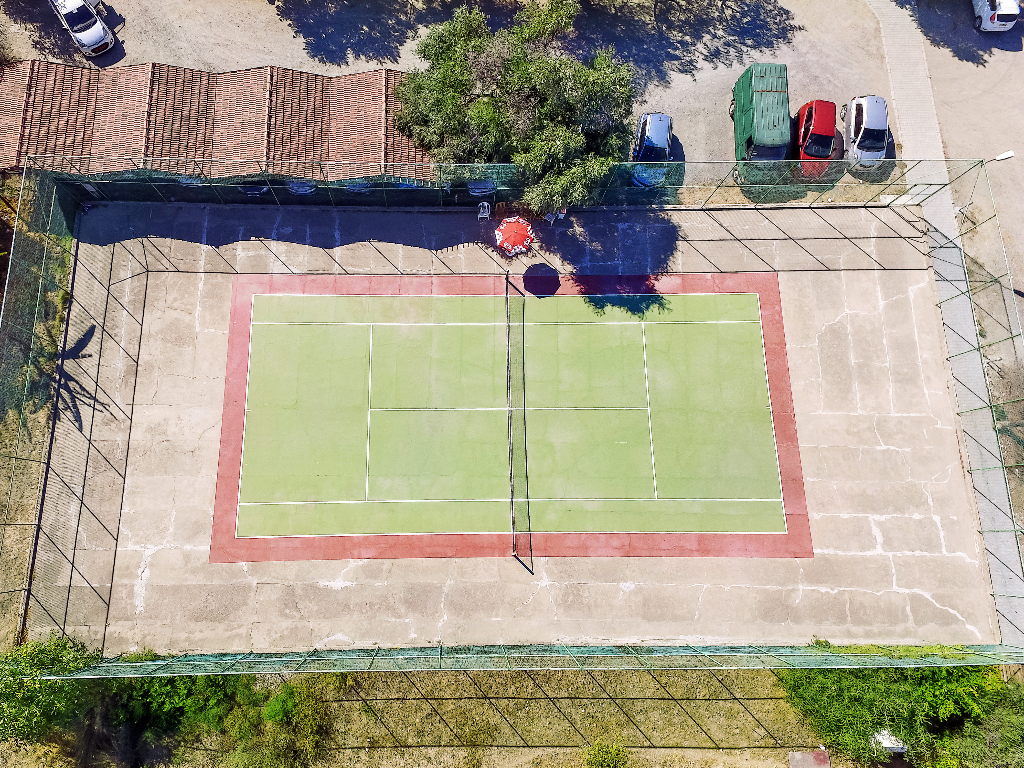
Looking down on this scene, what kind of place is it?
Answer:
sports ground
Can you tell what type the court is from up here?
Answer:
tennis court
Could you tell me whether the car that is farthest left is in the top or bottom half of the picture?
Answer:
top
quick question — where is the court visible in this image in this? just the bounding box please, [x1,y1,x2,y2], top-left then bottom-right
[16,200,1004,657]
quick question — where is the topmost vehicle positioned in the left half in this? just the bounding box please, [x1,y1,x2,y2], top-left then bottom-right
[50,0,120,56]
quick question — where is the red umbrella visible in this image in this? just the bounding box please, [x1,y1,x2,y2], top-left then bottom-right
[495,217,535,255]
